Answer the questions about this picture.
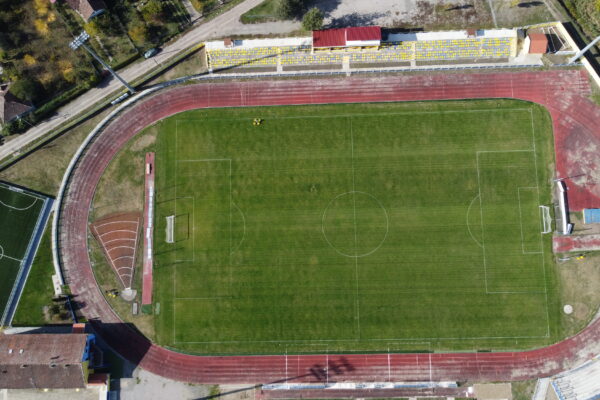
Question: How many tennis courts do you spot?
0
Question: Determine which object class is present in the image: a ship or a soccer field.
soccer field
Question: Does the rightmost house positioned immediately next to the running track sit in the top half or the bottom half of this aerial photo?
top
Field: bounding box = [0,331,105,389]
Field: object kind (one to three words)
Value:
building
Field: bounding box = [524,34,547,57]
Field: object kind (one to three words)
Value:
house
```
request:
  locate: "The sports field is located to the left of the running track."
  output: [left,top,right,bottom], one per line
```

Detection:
[0,184,46,327]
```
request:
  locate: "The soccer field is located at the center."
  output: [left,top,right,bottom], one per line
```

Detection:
[156,103,561,355]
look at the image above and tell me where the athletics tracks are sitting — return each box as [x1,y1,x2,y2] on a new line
[63,68,600,386]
